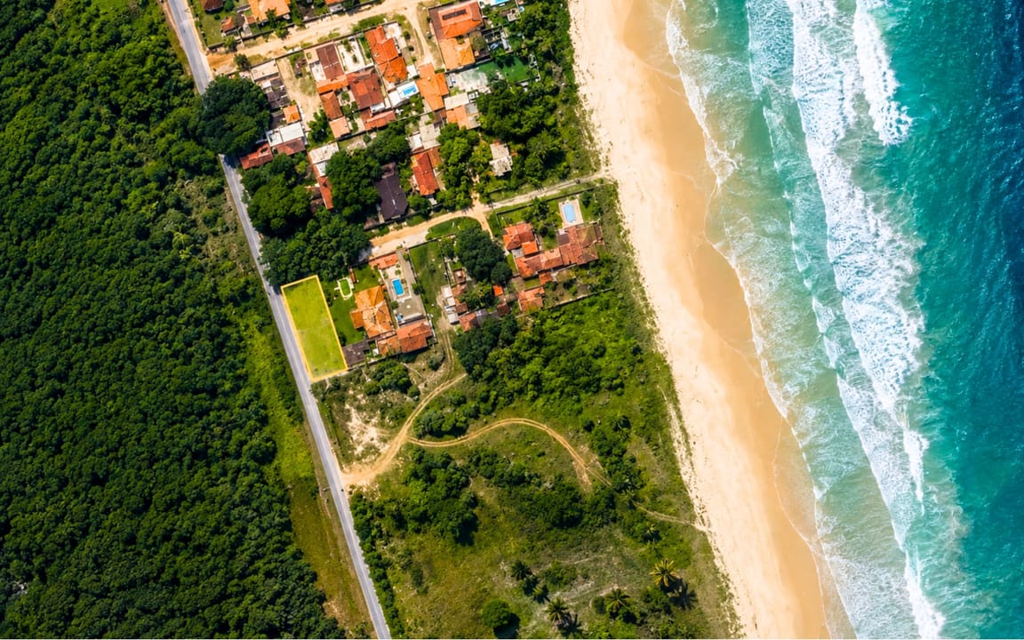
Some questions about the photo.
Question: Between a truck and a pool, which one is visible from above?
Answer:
pool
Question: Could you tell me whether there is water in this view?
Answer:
Yes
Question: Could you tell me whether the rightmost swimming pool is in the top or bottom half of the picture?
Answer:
top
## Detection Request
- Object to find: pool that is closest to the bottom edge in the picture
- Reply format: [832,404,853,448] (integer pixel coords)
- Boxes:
[389,274,410,301]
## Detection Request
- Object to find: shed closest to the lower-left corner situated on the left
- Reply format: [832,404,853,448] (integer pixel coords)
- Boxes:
[342,340,370,366]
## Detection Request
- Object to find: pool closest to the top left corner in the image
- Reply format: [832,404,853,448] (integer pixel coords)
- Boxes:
[389,82,419,107]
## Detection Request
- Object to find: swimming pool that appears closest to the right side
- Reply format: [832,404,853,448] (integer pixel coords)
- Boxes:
[559,199,583,227]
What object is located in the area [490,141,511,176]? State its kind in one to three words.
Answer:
house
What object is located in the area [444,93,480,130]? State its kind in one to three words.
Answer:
house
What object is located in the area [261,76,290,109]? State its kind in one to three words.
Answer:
building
